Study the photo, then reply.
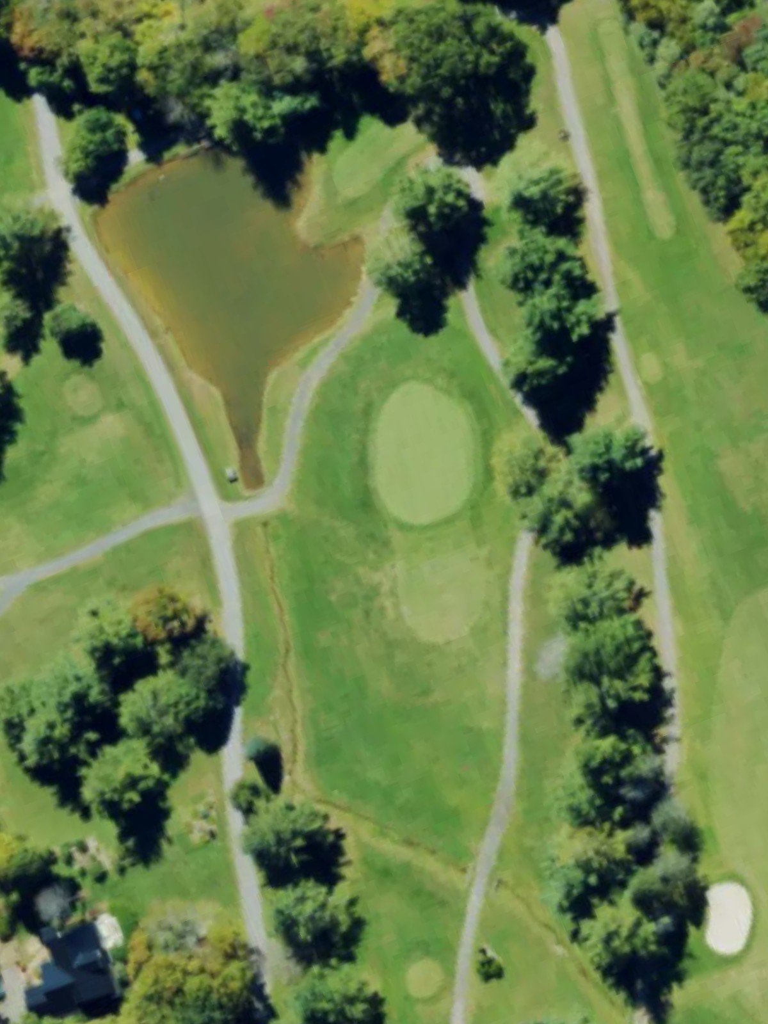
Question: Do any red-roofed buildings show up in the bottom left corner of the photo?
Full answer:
No, in the bottom left corner of the photo there is no red-roofed building.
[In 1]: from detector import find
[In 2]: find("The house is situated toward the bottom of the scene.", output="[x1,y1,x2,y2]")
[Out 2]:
[21,913,123,1017]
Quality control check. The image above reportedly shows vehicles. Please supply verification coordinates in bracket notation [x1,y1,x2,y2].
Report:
[226,468,237,481]
[0,977,5,997]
